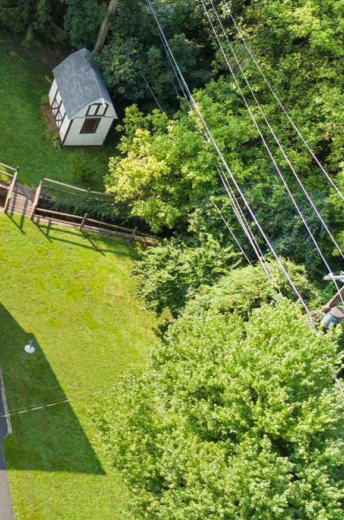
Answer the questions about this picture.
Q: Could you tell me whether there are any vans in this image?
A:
No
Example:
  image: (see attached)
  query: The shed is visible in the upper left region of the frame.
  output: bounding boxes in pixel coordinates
[44,49,118,147]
